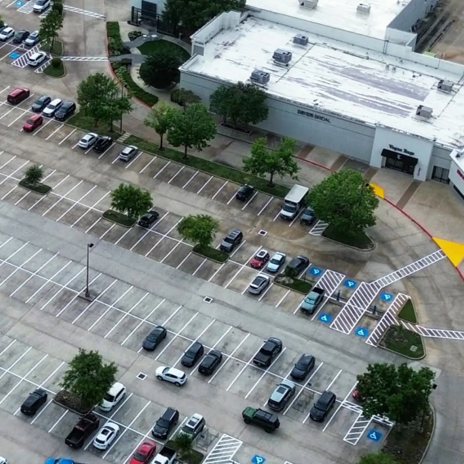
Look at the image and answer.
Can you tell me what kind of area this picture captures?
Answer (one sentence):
The picture captures a parking lot.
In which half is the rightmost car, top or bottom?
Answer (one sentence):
It is in the bottom half that the rightmost car appears.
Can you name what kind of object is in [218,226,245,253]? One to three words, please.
car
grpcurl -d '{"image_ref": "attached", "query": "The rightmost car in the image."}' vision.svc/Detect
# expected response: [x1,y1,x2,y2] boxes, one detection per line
[349,383,369,413]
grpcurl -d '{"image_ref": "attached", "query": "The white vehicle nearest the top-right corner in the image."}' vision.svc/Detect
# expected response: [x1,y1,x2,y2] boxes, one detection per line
[278,178,312,218]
